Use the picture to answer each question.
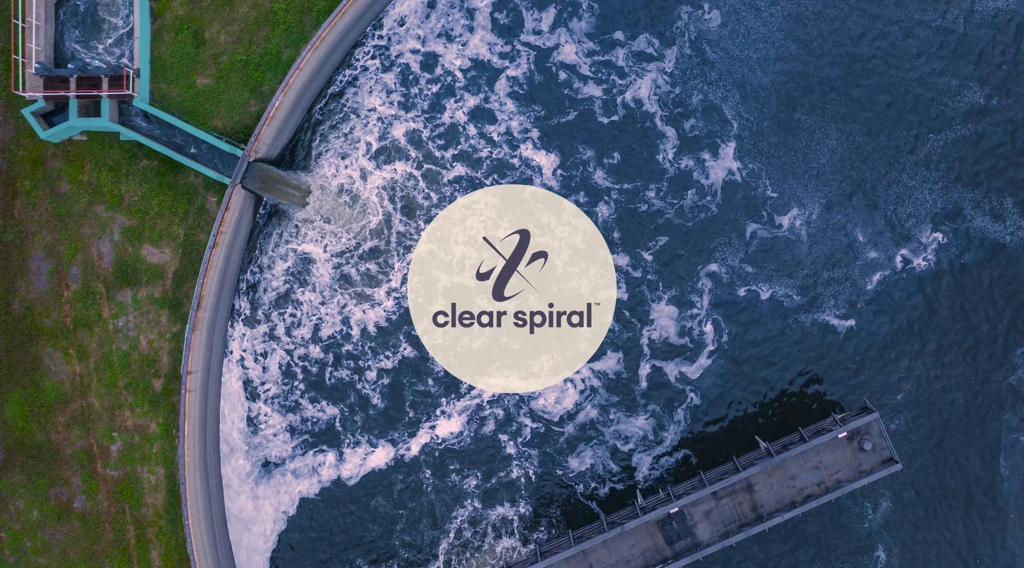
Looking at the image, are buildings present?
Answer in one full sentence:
No, there's no building here.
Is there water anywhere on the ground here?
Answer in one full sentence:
Yes, there is water in the image.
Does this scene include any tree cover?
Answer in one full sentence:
No, the scene doesn't show any tree cover.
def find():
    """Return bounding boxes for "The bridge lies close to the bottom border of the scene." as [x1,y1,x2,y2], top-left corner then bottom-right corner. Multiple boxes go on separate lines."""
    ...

[490,393,904,568]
